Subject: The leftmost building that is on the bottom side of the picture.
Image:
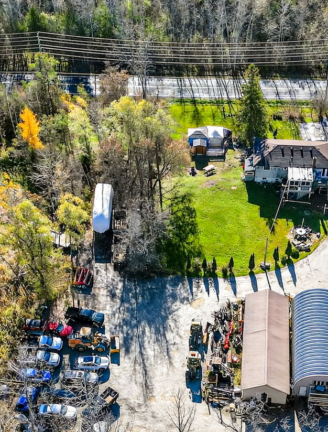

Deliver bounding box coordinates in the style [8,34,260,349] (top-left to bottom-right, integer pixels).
[239,286,288,403]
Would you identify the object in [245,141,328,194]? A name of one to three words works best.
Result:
house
